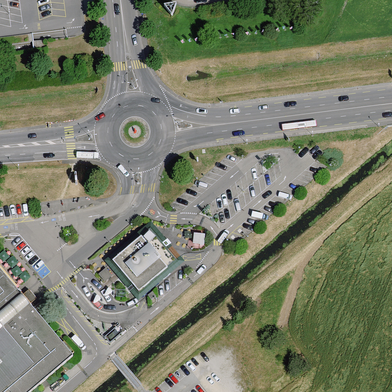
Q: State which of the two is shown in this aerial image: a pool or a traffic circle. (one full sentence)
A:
There is a traffic circle in the scene.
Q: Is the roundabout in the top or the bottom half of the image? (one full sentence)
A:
The top half of the photo is where the roundabout is.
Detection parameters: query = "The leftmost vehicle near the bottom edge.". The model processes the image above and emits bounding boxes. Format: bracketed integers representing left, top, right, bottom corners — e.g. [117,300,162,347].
[50,376,68,390]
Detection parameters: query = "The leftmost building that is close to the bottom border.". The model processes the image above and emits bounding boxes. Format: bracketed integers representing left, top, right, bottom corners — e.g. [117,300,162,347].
[0,295,72,392]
